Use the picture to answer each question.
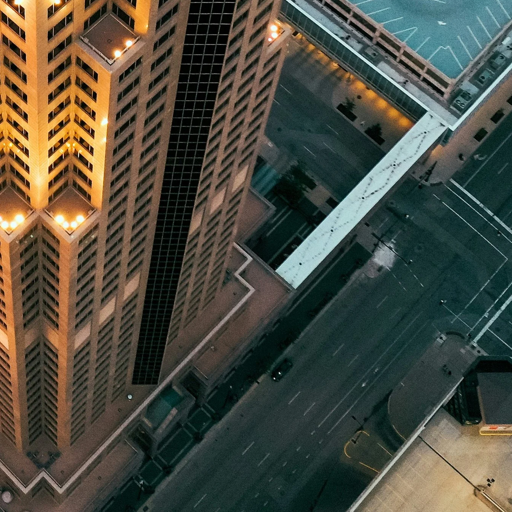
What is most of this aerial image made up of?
buildings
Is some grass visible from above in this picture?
No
